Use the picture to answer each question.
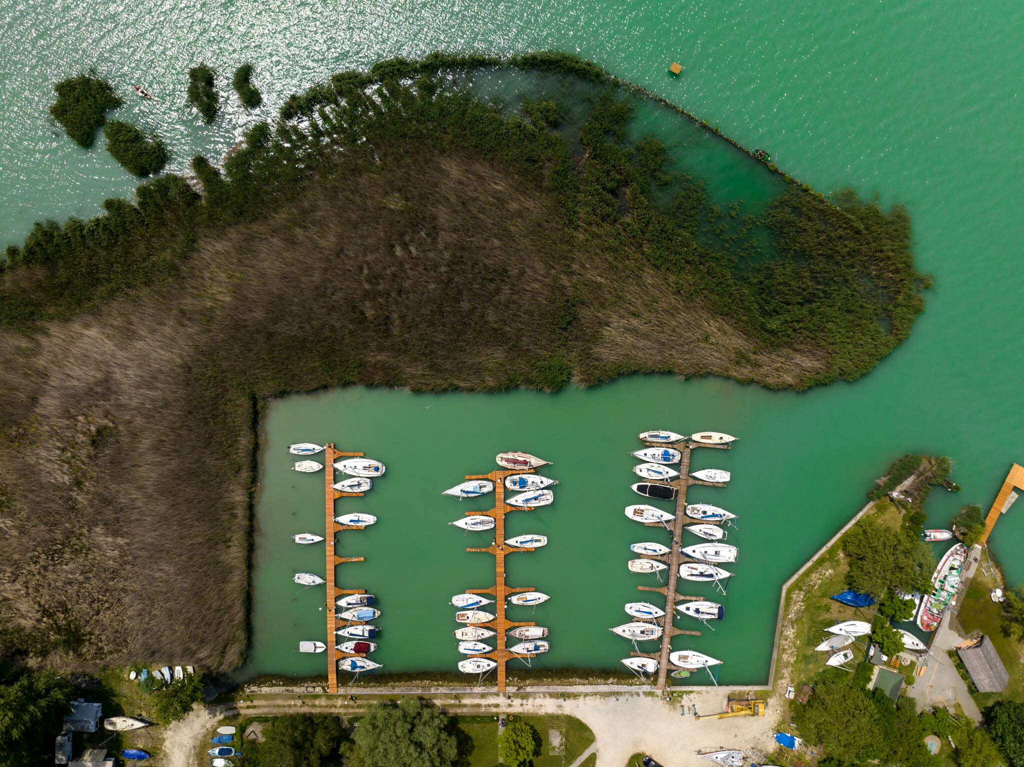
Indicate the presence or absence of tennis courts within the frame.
No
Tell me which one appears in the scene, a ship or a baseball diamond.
ship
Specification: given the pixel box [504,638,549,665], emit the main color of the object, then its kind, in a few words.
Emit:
white boat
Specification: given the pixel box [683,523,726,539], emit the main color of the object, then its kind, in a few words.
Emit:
white boat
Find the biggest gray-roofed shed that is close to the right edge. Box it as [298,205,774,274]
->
[953,635,1009,692]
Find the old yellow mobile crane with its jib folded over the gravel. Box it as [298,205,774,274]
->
[692,691,768,721]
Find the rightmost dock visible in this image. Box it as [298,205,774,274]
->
[977,464,1024,546]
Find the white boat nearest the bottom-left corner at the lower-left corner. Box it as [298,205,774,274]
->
[97,713,148,749]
